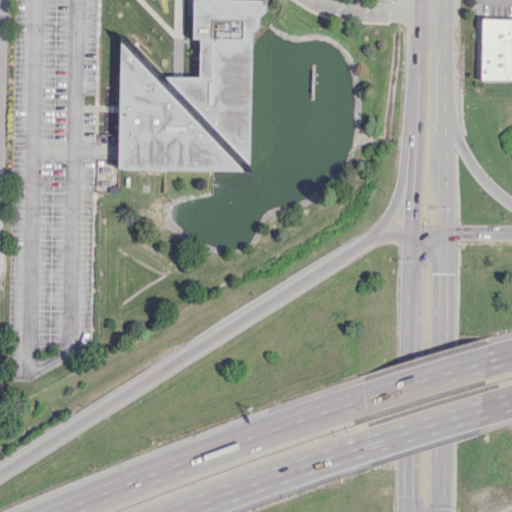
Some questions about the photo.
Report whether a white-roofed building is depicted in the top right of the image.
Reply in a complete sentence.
Yes, you'll find a white-roofed building in the top right of the image.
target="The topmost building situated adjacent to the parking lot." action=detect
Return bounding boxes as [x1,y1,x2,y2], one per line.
[110,0,268,174]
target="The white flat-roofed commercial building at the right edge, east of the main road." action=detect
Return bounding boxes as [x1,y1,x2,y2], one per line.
[480,18,512,83]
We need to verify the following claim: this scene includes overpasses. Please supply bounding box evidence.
[364,338,484,468]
